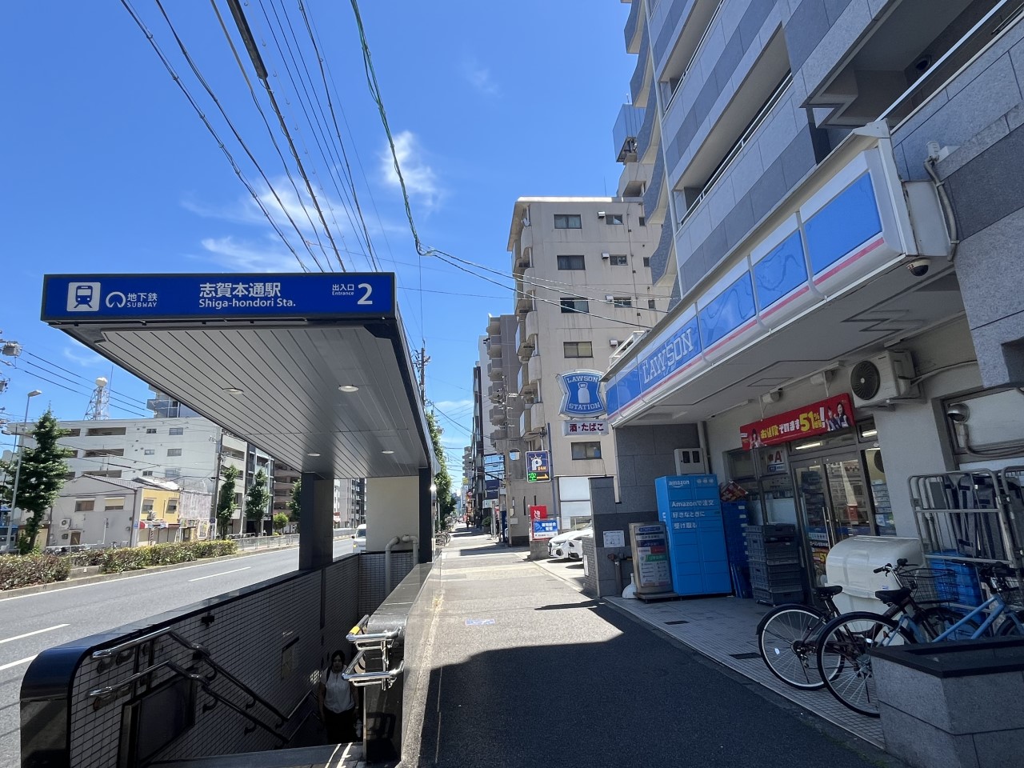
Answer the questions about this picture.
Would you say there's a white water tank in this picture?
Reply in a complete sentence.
No, there is no white water tank in the image.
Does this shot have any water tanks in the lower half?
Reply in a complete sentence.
No, the scene shows no water tank in the lower half.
